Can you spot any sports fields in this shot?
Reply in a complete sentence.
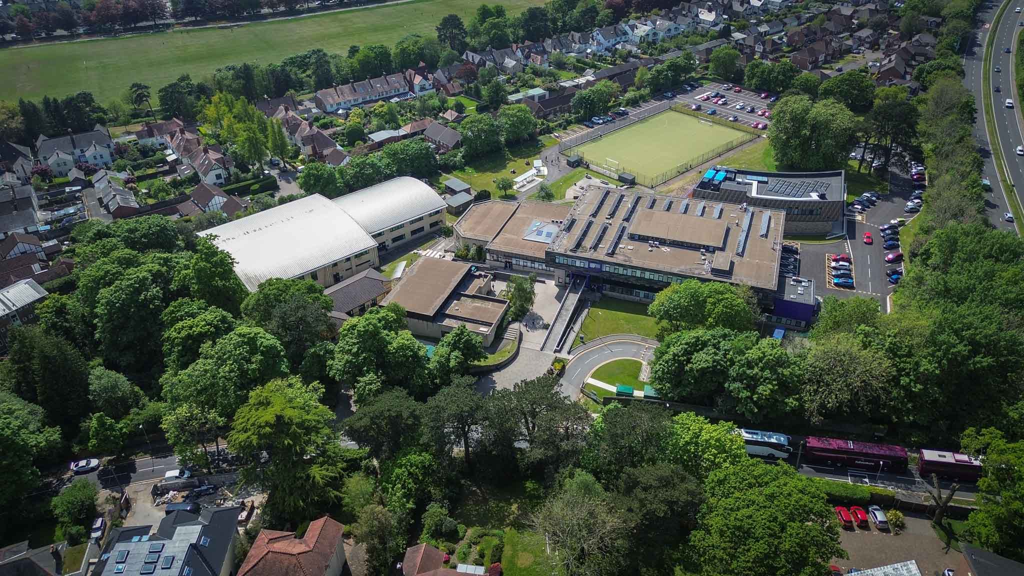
Yes, there's a sports field here.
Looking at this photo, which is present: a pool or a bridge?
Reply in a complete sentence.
I can see a bridge in this picture.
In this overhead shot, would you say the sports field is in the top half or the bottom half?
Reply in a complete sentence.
The top half of the photo is where the sports field is.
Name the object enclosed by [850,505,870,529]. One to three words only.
car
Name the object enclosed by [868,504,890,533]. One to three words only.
car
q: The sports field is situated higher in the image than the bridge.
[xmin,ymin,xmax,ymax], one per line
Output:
[562,108,758,186]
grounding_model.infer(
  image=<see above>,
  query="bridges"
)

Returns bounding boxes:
[542,281,584,354]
